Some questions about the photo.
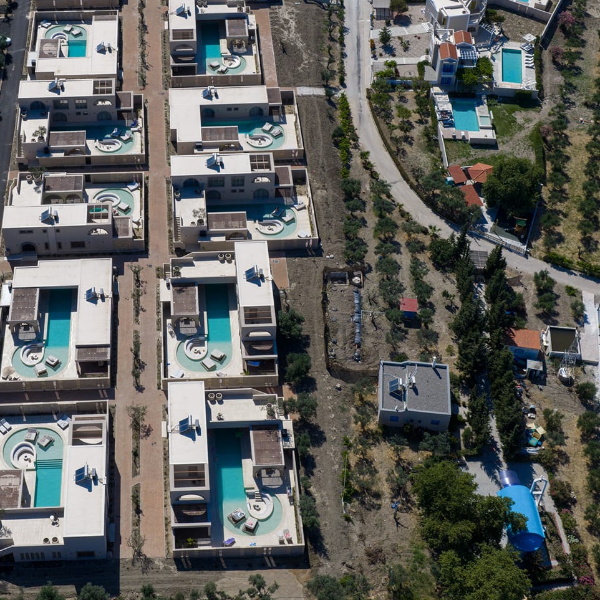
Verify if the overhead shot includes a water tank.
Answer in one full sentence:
Yes, I can see a water tank in this picture.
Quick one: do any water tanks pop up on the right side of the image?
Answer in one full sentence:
Yes, a water tank is visible on the right side of the image.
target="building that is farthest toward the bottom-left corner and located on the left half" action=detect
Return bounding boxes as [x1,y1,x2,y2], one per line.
[0,411,111,566]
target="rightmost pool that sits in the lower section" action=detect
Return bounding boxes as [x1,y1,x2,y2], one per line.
[214,435,284,538]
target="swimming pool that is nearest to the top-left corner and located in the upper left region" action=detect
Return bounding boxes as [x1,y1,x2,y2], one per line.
[42,22,88,57]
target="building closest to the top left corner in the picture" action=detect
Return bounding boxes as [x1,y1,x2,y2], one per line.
[28,12,118,88]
